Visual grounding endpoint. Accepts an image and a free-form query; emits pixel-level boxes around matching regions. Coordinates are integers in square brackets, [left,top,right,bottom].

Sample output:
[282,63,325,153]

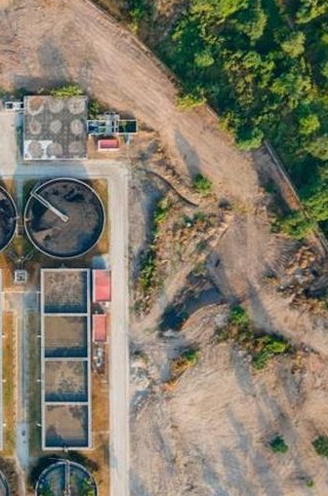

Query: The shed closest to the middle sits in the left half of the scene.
[90,270,110,303]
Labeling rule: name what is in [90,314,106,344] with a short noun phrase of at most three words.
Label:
shed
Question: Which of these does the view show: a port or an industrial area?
industrial area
